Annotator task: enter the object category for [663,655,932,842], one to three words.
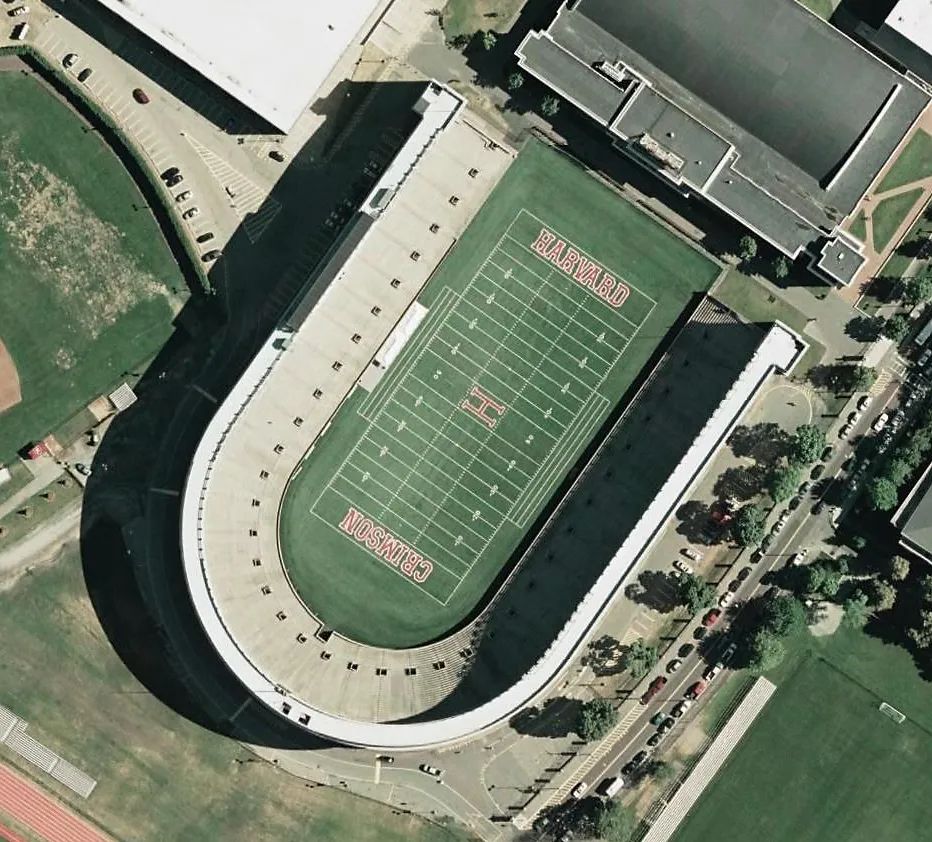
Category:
soccer field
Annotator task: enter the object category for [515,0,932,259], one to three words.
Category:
building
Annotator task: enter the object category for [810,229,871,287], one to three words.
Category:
building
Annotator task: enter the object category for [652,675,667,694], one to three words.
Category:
vehicle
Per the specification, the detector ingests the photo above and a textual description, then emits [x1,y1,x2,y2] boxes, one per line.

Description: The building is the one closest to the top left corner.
[98,0,387,134]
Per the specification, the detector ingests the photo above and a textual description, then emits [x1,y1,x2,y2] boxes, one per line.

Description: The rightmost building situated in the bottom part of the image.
[893,471,932,564]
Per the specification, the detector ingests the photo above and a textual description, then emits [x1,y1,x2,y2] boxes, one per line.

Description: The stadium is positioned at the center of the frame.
[182,80,809,746]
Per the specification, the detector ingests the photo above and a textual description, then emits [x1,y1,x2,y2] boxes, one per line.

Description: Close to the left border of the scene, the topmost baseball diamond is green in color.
[0,53,206,456]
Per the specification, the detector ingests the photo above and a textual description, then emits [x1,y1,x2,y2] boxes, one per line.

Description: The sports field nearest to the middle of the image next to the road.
[279,135,726,649]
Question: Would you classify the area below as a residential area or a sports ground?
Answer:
sports ground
